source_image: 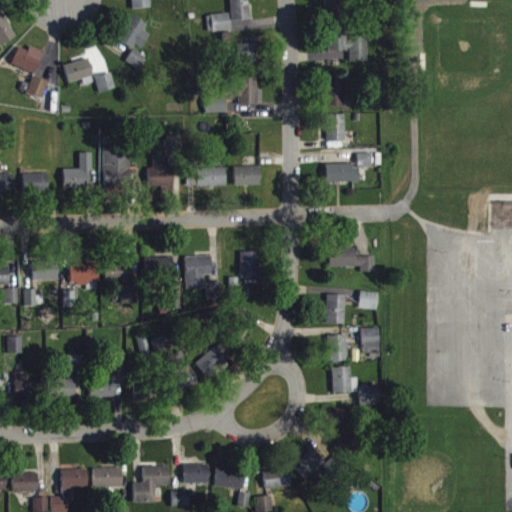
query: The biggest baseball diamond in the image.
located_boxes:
[430,14,505,86]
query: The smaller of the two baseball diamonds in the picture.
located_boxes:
[405,450,458,510]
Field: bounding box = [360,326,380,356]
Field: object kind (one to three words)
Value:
building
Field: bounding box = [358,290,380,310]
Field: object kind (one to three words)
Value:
building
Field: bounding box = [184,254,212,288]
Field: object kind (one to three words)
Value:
house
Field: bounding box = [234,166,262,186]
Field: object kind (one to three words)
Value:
house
